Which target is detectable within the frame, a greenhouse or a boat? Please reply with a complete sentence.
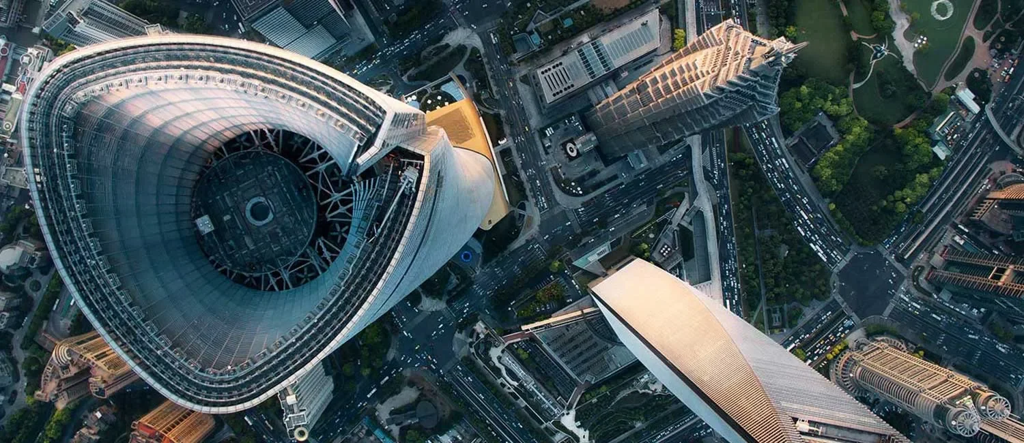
There is a greenhouse in the scene.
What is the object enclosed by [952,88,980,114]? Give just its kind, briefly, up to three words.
shed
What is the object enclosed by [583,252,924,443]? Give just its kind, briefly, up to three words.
building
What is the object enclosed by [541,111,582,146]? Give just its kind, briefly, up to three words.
building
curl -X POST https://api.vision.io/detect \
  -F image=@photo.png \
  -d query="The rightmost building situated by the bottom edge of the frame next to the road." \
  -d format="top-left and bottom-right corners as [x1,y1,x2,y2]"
[833,335,1012,443]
